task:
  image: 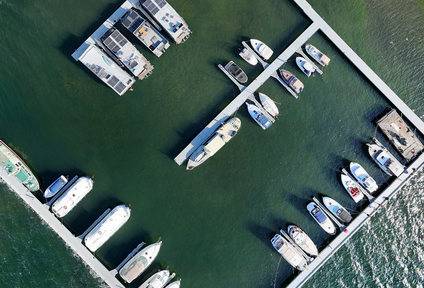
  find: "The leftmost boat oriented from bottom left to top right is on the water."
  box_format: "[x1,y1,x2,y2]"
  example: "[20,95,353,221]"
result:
[44,175,68,198]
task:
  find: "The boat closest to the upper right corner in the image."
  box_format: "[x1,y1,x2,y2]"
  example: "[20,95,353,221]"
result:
[306,46,332,67]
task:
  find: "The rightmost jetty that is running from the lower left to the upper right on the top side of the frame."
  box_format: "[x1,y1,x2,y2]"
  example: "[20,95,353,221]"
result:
[174,23,318,166]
